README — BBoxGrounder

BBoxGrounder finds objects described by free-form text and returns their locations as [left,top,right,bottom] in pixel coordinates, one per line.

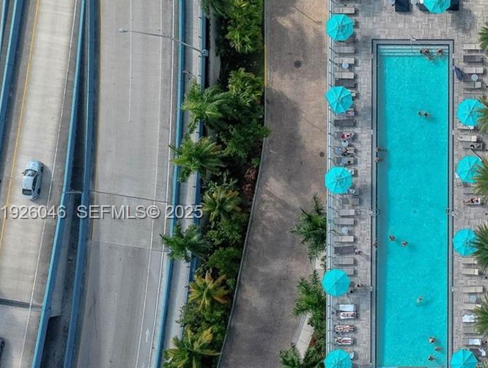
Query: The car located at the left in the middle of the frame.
[21,159,46,201]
